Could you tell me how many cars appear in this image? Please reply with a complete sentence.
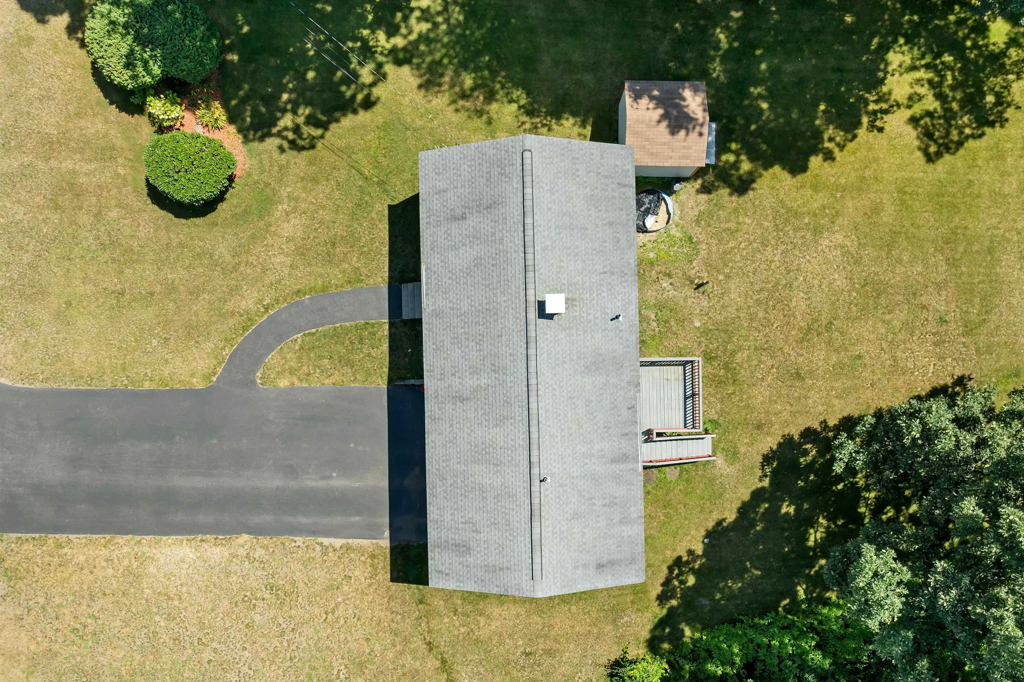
There are no cars in the image.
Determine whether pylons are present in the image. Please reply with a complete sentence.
No, there is no pylon in the image.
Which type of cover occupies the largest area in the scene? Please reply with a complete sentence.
For the most part, this view shows grass.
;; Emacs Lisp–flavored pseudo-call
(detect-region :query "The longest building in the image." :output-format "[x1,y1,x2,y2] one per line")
[417,136,646,599]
